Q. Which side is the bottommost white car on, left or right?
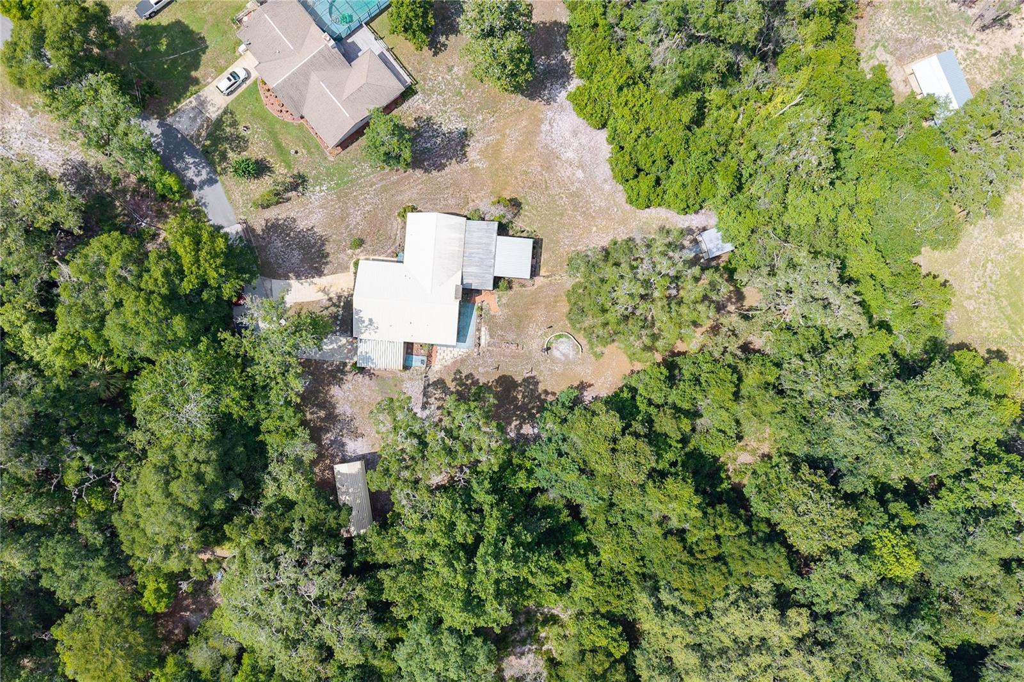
left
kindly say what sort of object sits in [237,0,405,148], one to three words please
house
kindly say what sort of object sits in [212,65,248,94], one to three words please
car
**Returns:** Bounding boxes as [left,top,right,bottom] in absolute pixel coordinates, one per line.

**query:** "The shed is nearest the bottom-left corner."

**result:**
[334,458,376,536]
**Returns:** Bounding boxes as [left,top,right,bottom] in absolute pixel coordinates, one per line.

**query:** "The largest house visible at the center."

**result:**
[353,213,466,346]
